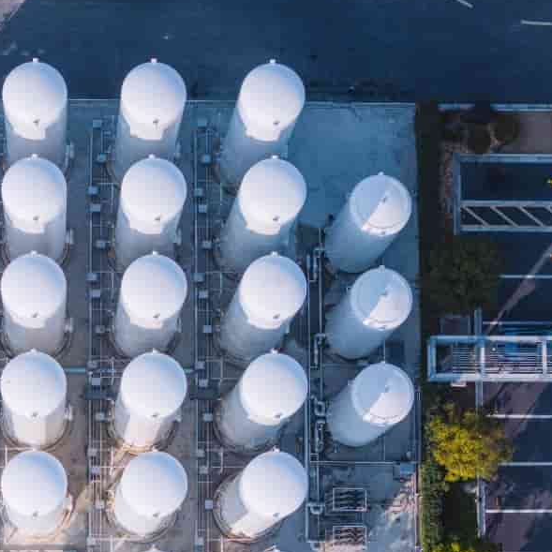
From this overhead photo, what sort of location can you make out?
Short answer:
industrial area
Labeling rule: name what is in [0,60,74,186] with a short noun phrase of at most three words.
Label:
storage tank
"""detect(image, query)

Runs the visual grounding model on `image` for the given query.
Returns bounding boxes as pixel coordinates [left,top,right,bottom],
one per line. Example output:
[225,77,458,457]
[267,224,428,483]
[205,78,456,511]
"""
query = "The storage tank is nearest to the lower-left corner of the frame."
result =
[0,447,73,552]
